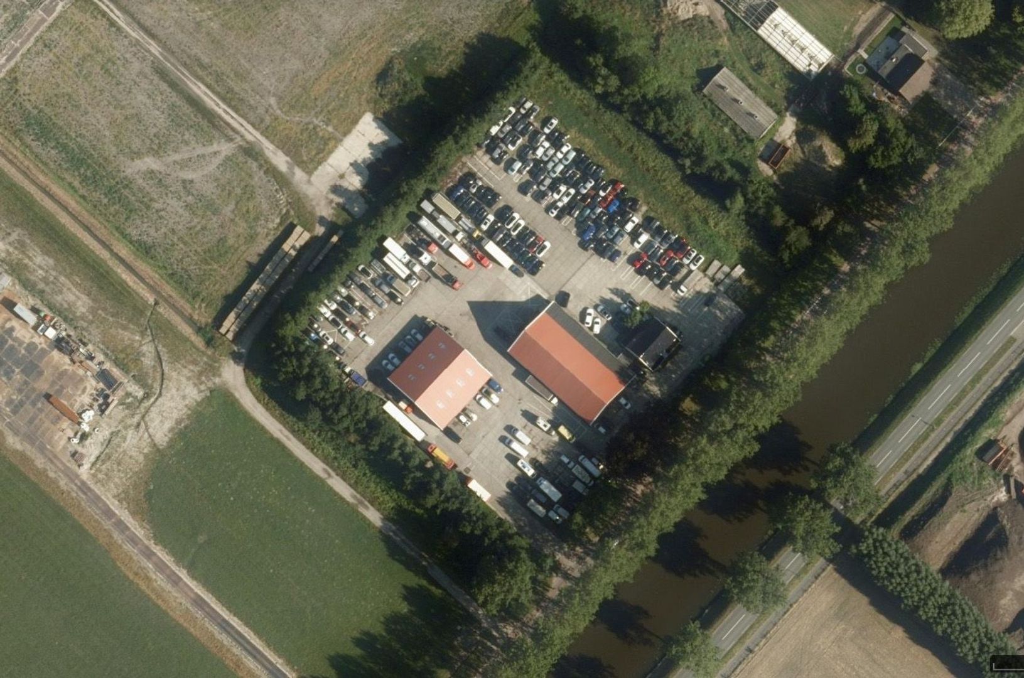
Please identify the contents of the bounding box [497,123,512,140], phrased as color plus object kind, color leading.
gray car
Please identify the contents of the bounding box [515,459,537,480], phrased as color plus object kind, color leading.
white vehicle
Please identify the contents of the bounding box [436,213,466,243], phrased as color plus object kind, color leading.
white truck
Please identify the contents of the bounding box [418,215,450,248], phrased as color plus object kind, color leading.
white bus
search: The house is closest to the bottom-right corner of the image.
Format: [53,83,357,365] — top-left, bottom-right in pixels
[624,316,681,372]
